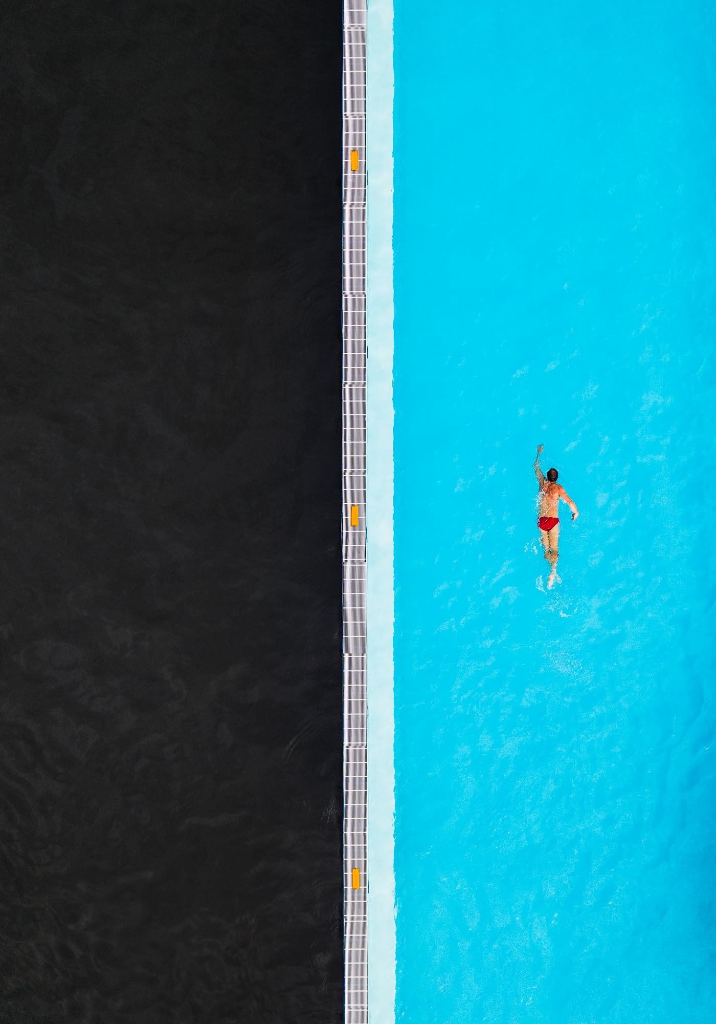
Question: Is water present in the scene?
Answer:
Yes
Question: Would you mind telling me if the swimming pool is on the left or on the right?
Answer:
right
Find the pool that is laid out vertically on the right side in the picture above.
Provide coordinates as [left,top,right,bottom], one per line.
[367,0,716,1024]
